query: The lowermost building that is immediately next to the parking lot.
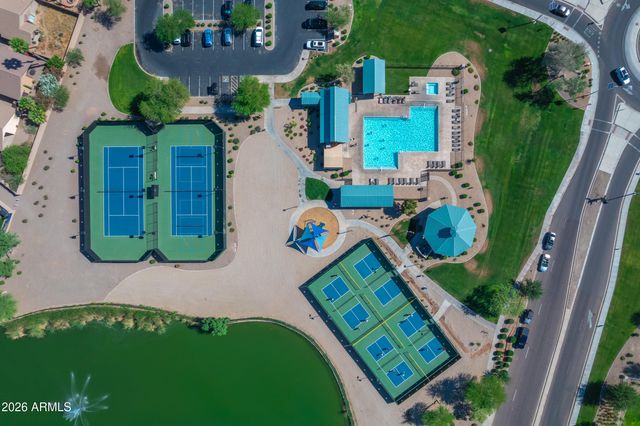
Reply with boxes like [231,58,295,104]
[302,84,349,143]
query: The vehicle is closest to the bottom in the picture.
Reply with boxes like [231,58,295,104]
[516,326,529,349]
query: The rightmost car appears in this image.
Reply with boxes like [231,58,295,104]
[615,66,631,85]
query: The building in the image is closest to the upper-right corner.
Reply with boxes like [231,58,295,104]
[363,57,386,96]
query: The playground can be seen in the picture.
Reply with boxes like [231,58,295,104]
[289,202,345,258]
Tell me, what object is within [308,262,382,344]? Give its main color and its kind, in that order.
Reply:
green sports court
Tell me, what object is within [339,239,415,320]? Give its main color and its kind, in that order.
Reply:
green sports court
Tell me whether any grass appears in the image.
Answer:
Yes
